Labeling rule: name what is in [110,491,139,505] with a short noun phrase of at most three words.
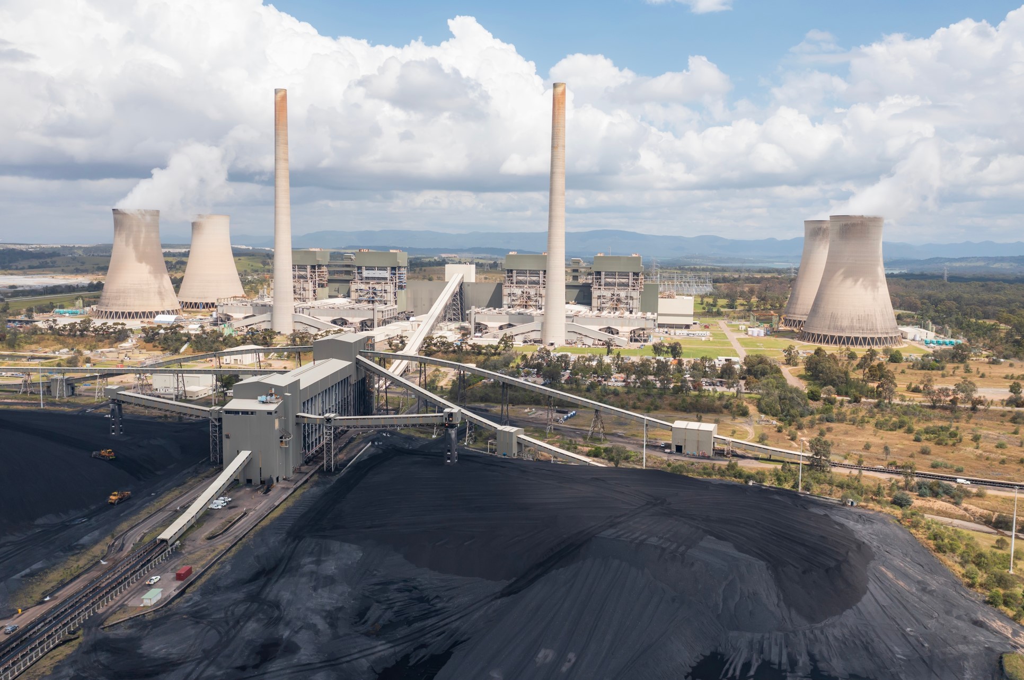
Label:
work vehicle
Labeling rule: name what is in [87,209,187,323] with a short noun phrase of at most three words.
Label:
cooling tower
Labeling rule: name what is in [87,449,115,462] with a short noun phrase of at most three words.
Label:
vehicle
